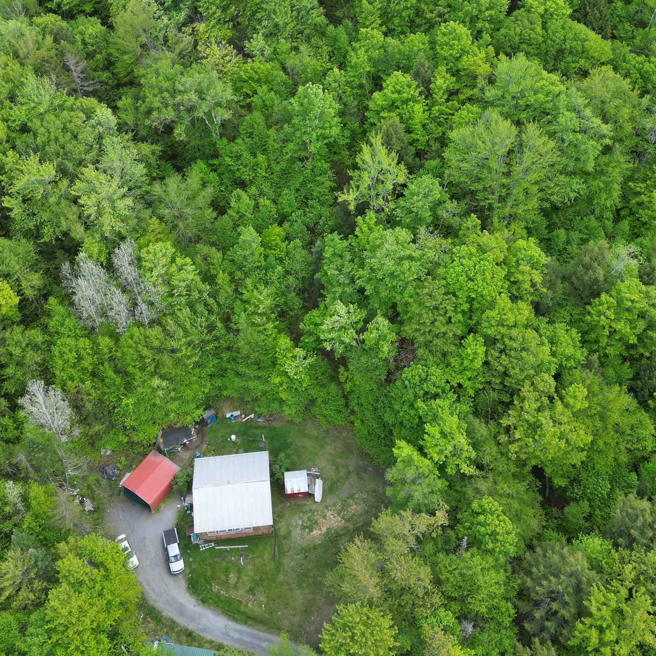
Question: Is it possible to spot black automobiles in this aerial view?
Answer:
No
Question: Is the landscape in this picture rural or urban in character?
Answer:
rural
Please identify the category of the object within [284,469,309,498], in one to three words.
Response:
shed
